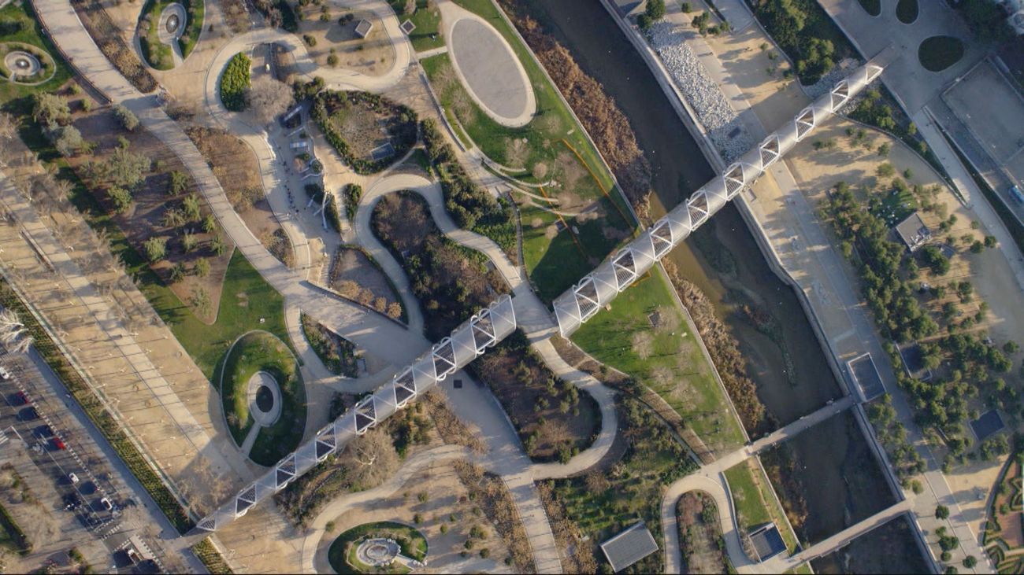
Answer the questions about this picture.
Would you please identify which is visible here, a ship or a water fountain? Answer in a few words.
water fountain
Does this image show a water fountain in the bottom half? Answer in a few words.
Yes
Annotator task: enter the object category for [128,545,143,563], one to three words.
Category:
vehicle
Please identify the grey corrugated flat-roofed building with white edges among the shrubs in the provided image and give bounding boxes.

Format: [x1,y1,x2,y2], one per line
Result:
[599,521,659,573]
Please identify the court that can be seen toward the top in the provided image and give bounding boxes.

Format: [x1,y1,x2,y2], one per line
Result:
[940,55,1024,187]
